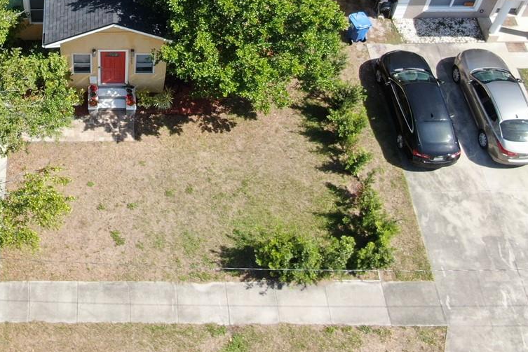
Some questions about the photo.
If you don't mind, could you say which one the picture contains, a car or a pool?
car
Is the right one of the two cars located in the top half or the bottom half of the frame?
top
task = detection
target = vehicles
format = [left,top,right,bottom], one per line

[460,49,528,161]
[378,51,460,163]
